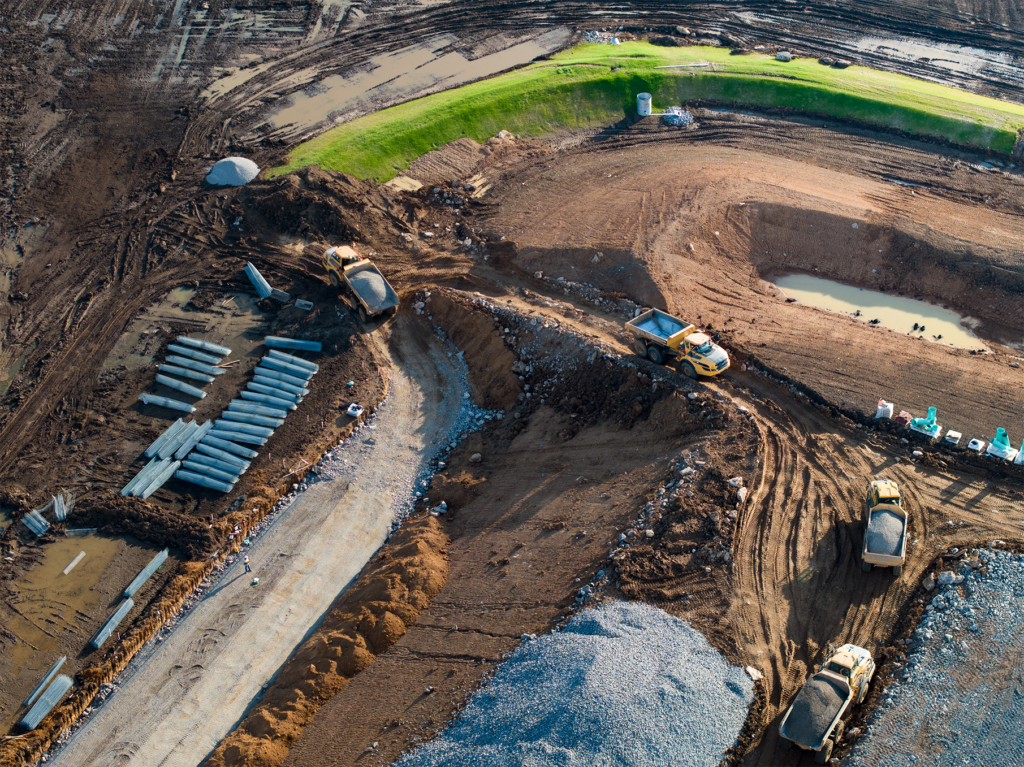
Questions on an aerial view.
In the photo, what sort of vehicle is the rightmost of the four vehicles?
truck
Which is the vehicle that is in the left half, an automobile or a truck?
truck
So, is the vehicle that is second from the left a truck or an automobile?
truck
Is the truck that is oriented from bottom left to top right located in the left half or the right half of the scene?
right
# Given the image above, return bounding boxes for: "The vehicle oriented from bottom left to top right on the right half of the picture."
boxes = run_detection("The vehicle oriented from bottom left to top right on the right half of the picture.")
[776,634,881,767]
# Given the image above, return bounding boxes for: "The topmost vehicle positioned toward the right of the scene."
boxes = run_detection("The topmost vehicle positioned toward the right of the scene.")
[623,307,738,386]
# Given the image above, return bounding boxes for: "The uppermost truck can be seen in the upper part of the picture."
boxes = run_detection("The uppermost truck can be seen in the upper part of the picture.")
[323,246,399,330]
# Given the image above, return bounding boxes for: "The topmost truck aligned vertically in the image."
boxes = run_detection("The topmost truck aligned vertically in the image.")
[859,473,909,577]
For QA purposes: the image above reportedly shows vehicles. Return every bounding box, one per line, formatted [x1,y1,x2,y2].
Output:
[323,246,399,330]
[623,307,738,386]
[776,634,881,767]
[859,473,909,577]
